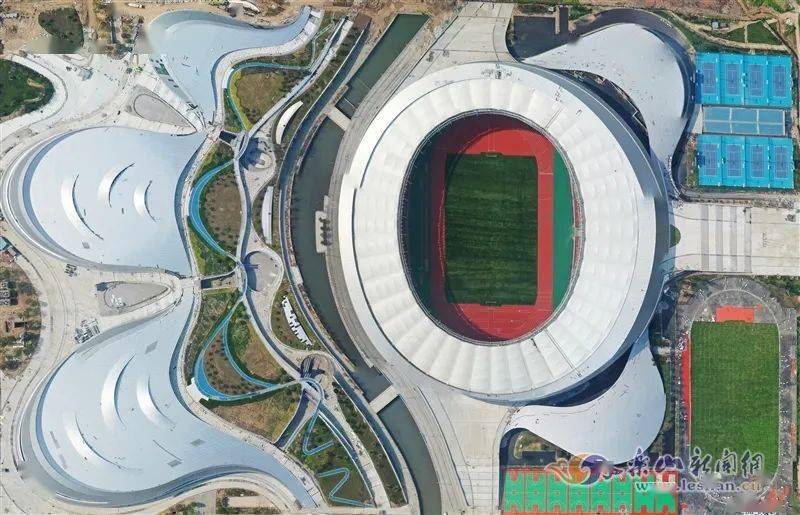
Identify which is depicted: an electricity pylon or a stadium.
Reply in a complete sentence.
Visible in the photo is a stadium.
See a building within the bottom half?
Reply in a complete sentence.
Yes, a building is visible within the bottom half.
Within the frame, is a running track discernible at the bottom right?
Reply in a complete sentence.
Yes, the scene does show a running track at the bottom right.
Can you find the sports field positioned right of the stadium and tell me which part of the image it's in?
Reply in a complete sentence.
You can find the sports field positioned right of the stadium in the bottom right area of the picture.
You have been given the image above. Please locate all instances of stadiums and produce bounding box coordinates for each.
[339,61,676,409]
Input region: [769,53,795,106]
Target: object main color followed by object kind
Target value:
blue tennis court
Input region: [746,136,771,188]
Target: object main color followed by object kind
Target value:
blue tennis court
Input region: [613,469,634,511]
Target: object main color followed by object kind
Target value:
green basketball court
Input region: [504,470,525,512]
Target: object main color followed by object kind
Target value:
green basketball court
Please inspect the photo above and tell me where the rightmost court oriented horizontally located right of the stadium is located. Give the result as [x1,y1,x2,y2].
[702,106,786,135]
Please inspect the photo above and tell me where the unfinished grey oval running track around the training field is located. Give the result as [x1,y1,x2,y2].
[675,278,797,515]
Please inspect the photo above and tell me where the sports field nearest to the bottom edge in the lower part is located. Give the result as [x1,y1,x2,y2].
[691,320,779,474]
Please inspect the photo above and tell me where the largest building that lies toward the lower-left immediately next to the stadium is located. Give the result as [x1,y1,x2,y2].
[20,284,321,510]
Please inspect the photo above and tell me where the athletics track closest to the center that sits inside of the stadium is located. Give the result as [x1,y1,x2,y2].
[430,109,554,344]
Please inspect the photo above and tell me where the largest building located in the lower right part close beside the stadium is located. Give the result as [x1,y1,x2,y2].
[504,326,666,464]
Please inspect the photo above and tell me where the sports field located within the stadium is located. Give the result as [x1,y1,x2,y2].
[447,151,538,307]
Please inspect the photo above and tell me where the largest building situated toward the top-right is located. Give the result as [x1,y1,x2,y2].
[521,23,685,203]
